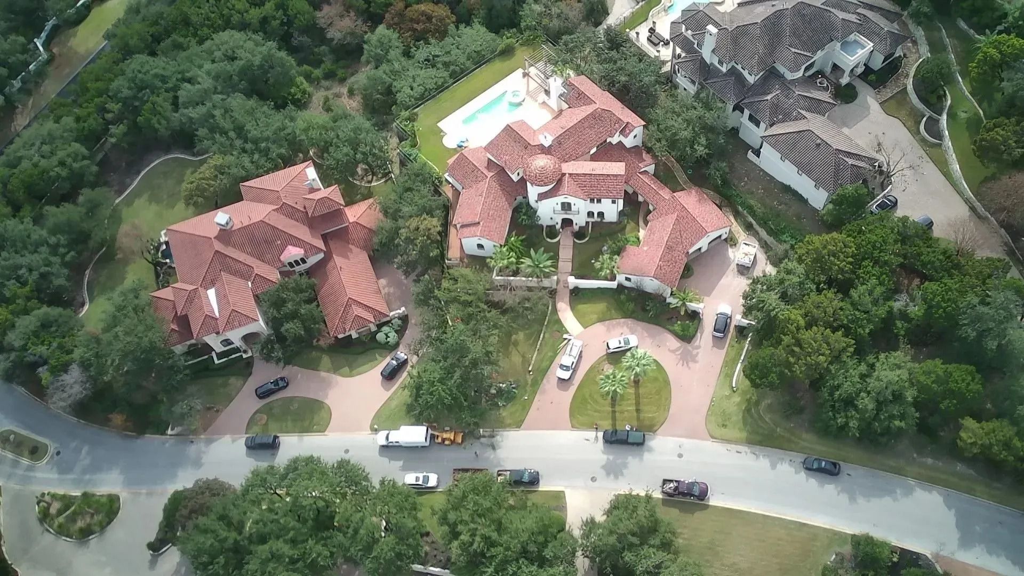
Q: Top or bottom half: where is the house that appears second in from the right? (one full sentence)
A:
The top half of the photo is where the house that appears second in from the right is.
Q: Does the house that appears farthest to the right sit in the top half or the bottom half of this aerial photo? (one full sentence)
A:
The house that appears farthest to the right sits in the top half of the picture.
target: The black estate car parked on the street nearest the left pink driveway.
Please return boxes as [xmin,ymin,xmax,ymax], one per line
[243,433,282,451]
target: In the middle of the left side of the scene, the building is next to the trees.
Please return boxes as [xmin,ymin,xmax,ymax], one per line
[149,160,391,354]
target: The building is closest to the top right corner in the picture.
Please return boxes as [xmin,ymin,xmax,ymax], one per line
[670,0,911,212]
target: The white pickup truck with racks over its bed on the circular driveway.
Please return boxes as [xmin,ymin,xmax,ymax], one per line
[555,335,585,381]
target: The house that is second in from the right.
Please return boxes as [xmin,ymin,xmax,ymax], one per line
[448,74,733,297]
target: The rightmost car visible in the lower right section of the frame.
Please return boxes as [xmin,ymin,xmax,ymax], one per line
[802,457,841,477]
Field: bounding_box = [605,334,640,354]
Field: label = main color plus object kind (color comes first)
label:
white car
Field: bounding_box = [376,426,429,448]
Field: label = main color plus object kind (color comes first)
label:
white truck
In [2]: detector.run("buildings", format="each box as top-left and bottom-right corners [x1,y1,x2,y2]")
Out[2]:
[670,0,911,212]
[149,160,391,354]
[448,74,733,297]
